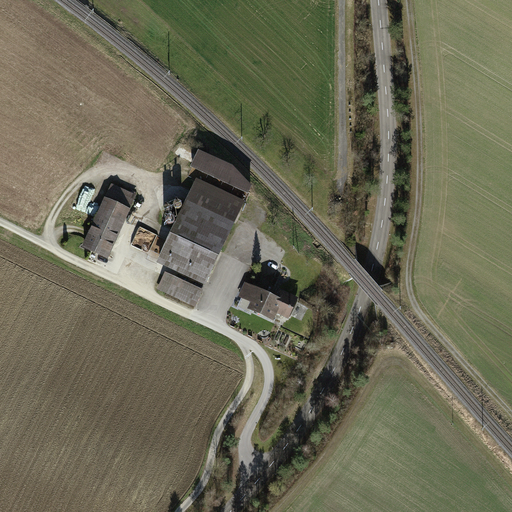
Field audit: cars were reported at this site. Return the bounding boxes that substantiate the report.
[98,256,107,263]
[268,262,277,268]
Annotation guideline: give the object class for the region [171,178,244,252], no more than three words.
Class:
barn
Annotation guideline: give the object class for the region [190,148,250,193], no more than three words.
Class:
shed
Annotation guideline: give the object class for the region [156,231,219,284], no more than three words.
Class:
building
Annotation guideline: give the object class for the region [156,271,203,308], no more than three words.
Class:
shed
